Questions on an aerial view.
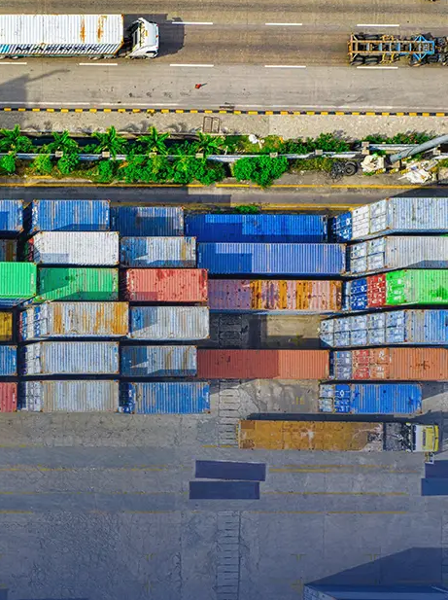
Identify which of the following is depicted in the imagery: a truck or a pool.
truck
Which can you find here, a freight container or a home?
freight container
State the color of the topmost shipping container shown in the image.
white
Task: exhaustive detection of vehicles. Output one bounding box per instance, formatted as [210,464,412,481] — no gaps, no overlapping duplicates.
[234,417,438,462]
[79,24,162,65]
[341,37,448,71]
